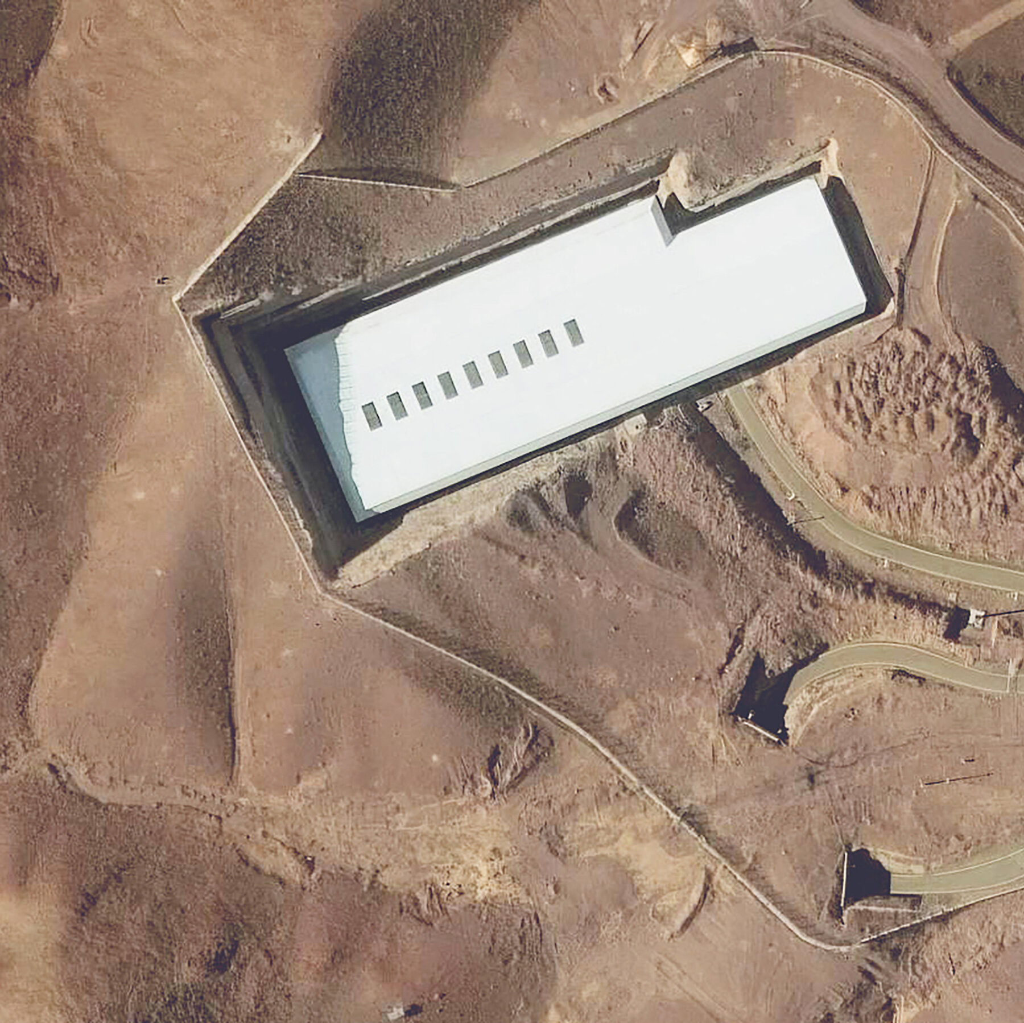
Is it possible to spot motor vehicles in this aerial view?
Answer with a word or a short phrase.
No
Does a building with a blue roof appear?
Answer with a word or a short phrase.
No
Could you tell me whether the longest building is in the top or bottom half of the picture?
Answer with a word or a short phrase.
top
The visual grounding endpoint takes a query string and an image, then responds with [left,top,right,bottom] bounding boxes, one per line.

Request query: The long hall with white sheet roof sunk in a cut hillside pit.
[285,178,865,522]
